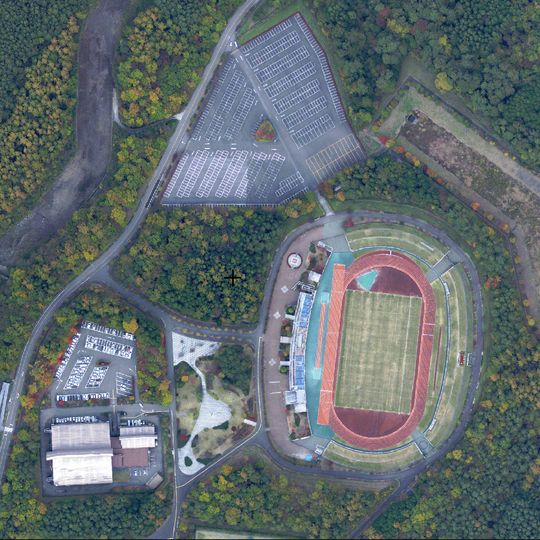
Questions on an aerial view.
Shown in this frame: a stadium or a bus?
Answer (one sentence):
It is a stadium that can be seen here.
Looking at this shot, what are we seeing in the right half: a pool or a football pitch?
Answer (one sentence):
The feature located in the right half is a football pitch.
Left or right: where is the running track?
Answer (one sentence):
The running track is on the right side of the image.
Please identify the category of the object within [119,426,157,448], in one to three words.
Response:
building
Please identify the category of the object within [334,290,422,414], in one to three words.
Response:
soccer field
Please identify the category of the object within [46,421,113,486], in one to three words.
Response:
building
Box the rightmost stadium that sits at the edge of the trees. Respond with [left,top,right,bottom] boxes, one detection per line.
[306,217,475,472]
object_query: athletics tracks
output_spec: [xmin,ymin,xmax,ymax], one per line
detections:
[319,251,435,450]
